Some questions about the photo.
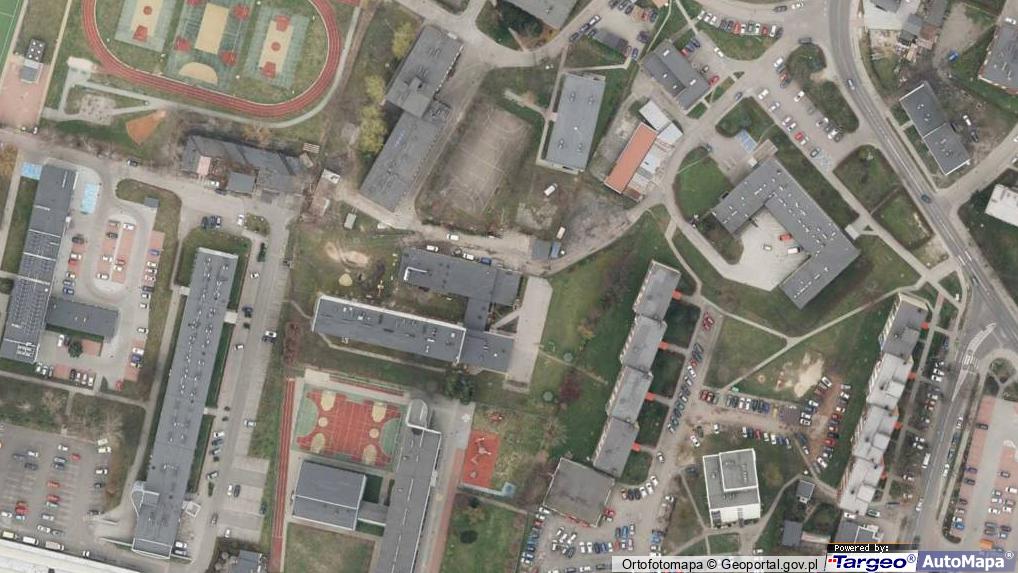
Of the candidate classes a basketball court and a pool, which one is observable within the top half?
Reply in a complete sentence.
Looking within the top half, you will find a basketball court.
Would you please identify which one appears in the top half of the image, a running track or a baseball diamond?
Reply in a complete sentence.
The feature located in the top half of the image is a running track.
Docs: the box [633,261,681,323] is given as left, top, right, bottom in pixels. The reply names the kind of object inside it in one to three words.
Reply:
building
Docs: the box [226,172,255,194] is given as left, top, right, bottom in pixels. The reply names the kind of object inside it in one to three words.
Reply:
shed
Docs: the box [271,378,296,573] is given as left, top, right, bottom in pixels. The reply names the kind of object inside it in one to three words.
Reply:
running track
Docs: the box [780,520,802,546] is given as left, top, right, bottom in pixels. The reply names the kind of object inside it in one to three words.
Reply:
house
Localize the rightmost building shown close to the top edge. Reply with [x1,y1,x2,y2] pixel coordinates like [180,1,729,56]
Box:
[975,21,1018,108]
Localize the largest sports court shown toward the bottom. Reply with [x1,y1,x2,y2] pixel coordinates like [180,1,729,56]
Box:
[291,384,405,473]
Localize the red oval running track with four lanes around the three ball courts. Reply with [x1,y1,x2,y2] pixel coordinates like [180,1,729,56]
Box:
[83,0,358,115]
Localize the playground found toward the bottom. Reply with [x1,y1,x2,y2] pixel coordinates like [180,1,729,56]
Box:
[462,430,500,489]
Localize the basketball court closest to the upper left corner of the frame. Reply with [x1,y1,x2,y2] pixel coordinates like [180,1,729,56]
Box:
[116,0,174,51]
